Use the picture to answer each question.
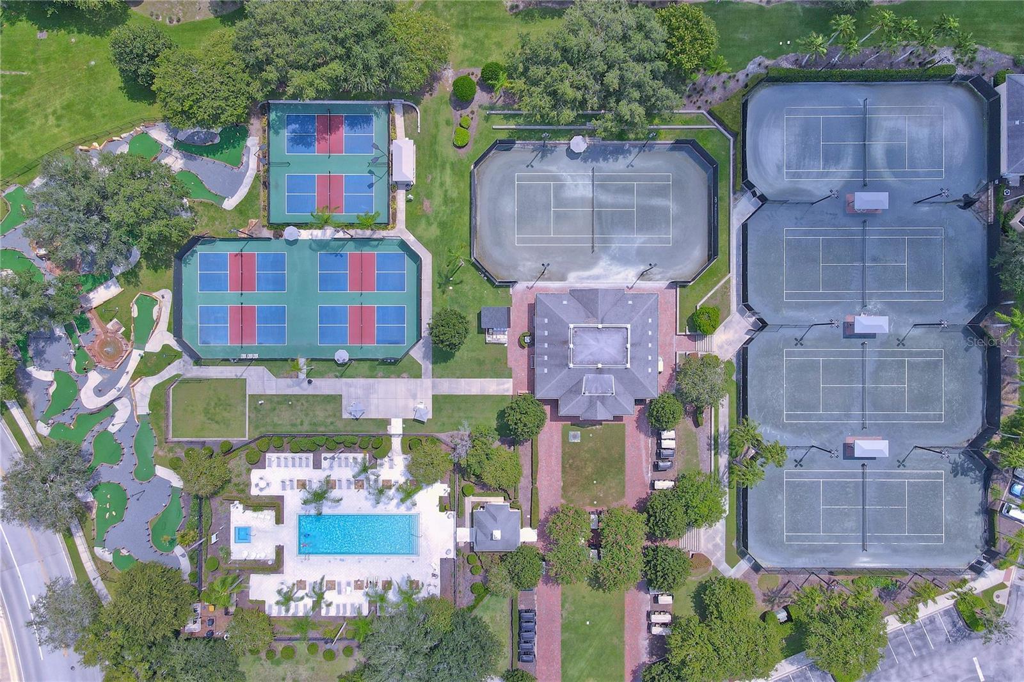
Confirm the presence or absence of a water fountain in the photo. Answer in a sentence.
Yes, looking at the shot, I can spot a water fountain.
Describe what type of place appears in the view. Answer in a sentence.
What you see here is a sports ground.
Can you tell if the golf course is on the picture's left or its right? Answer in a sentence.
The golf course sits on the left side.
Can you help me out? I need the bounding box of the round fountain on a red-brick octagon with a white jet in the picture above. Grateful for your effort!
[88,310,131,368]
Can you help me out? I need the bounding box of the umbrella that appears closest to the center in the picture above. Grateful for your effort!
[414,404,429,420]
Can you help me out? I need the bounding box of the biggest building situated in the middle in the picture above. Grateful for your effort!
[535,289,658,420]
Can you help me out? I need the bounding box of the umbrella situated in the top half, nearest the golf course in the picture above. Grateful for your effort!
[284,226,299,240]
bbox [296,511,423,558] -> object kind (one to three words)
swimming pool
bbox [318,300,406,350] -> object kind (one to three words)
sports court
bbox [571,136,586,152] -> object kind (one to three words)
umbrella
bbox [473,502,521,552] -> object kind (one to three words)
building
